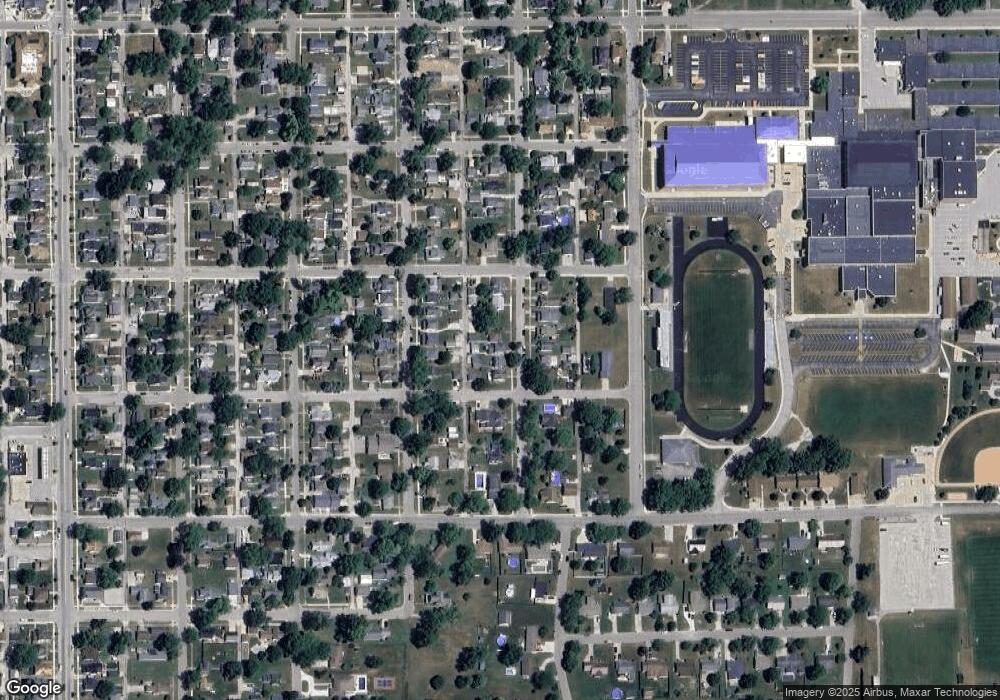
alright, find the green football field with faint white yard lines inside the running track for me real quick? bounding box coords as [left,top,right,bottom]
[684,249,754,429]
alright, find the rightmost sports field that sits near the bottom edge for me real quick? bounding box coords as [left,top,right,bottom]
[962,528,1000,677]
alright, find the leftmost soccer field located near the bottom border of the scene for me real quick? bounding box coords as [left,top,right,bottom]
[880,612,957,700]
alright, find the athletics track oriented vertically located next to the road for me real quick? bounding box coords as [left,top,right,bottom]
[673,217,765,439]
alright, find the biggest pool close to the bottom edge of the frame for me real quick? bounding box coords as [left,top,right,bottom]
[355,673,368,691]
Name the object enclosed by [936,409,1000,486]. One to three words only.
baseball field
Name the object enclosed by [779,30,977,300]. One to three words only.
building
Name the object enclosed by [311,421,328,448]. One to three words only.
house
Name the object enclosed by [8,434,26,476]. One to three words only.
gas station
